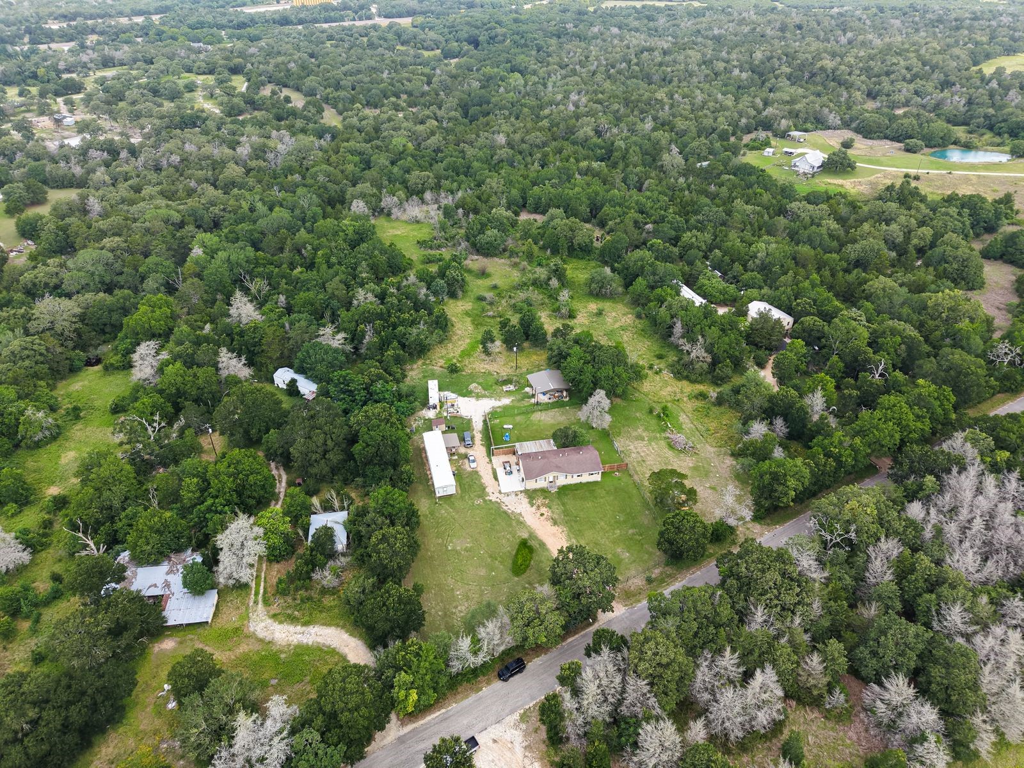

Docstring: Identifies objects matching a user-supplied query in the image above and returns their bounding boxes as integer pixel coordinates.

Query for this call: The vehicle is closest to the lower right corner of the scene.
[497,657,527,682]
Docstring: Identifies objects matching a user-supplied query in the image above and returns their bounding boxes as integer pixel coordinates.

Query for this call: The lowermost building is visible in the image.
[104,548,221,634]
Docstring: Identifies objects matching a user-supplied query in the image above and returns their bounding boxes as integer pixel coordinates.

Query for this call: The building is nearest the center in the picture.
[526,370,570,403]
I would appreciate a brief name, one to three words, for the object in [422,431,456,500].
house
